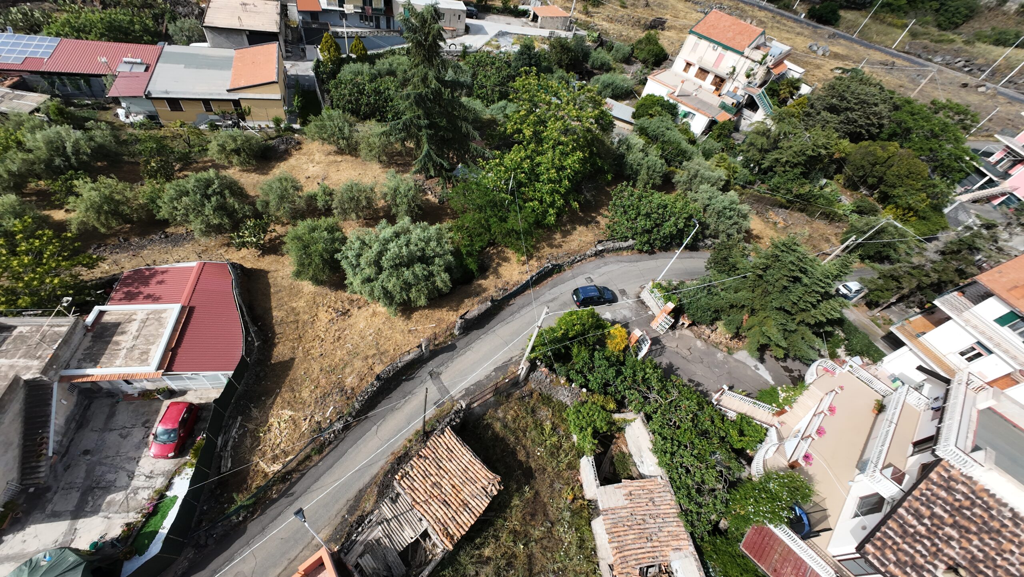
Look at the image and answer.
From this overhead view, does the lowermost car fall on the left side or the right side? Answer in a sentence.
The lowermost car sits on the left side.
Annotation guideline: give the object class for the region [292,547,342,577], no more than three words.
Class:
building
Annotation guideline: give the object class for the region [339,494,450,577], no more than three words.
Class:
shed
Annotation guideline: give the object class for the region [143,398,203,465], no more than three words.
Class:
car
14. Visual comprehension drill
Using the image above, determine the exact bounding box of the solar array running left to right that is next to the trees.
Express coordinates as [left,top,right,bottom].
[0,33,60,62]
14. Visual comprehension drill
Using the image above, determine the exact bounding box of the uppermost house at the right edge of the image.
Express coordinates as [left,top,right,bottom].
[956,120,1024,228]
